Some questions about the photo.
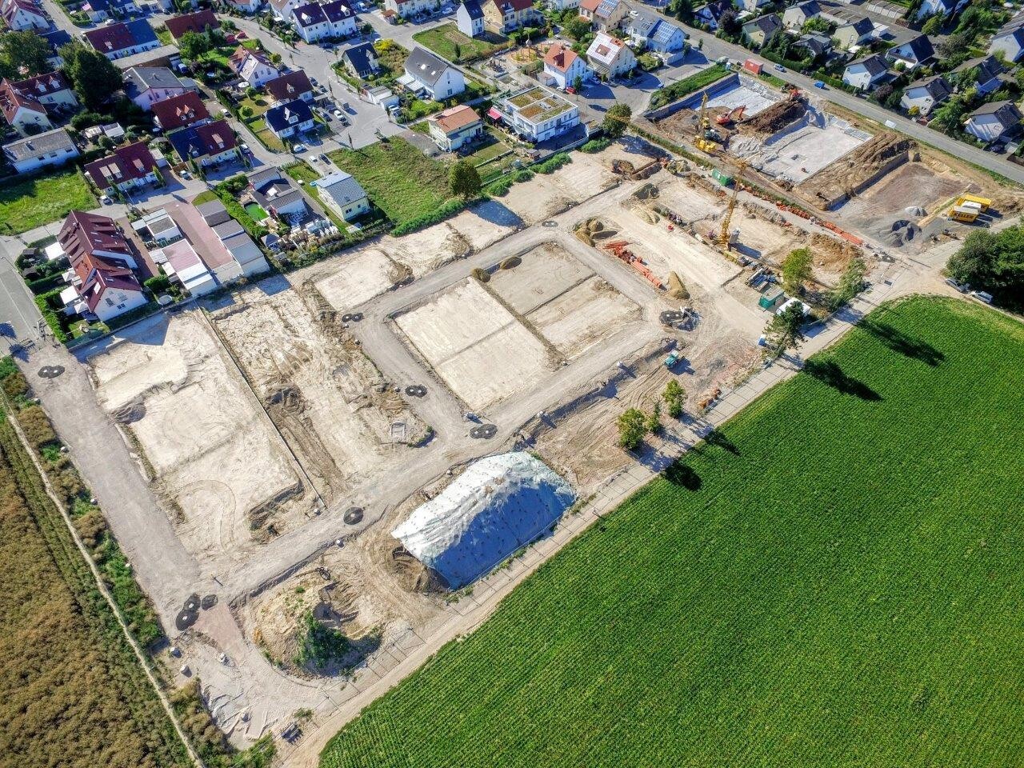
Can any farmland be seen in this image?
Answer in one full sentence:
Yes, some farmland is visible.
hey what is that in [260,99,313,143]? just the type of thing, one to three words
house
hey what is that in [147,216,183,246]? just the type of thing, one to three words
building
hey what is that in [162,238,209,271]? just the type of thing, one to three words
building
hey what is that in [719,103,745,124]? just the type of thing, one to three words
work vehicle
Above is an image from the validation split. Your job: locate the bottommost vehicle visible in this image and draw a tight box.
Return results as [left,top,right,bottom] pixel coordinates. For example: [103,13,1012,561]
[657,348,685,370]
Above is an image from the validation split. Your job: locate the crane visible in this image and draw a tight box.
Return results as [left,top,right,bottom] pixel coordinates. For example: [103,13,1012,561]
[605,112,768,258]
